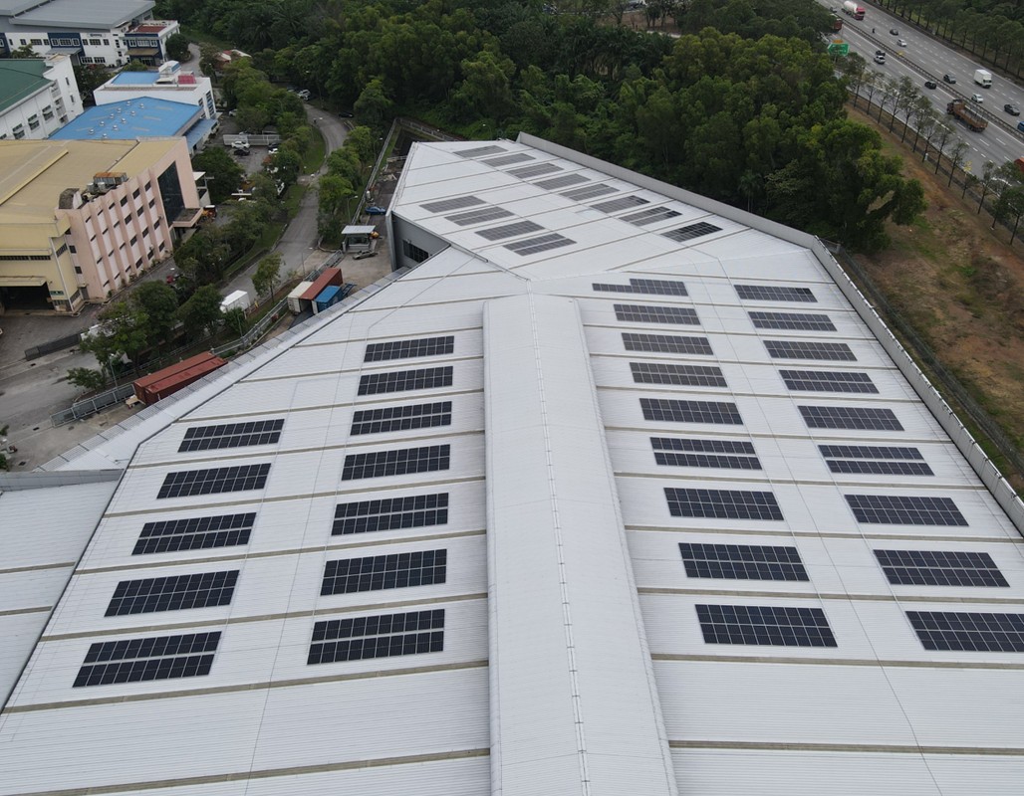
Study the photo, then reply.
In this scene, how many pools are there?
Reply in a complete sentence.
There are no pools in this view.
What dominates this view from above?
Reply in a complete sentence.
The scene is dominated by buildings.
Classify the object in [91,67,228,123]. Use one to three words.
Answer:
building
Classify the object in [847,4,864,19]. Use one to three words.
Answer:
vehicle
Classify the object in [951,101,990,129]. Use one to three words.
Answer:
truck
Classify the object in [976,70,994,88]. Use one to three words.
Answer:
vehicle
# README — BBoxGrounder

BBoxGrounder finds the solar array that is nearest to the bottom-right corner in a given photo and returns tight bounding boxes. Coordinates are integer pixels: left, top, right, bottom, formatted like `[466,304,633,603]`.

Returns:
[905,609,1024,650]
